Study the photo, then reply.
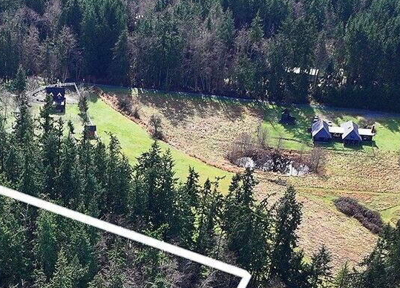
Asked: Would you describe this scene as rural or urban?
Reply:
rural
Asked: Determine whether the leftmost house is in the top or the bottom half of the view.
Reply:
top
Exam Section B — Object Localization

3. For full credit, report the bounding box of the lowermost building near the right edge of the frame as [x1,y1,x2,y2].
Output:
[307,121,385,145]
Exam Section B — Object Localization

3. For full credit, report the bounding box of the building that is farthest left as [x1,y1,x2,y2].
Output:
[43,84,66,109]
